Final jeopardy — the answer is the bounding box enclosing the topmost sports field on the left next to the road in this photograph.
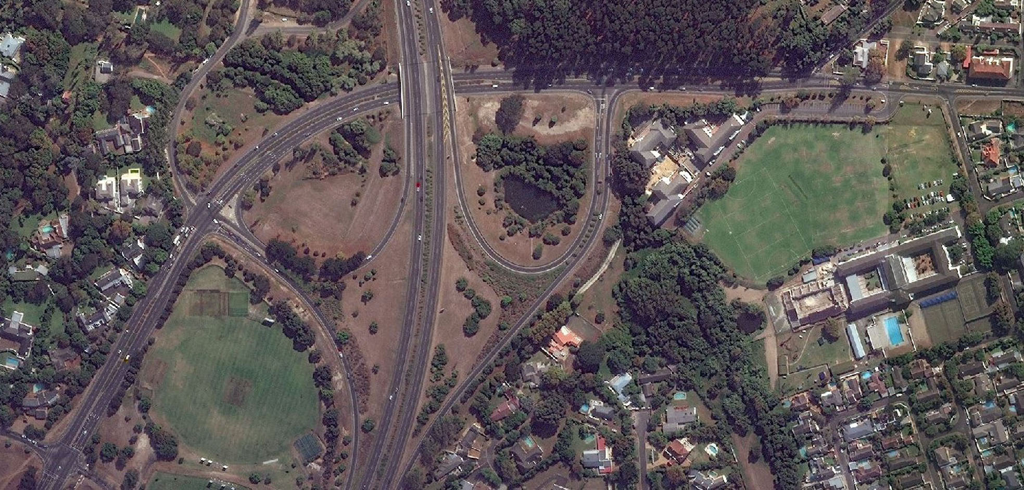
[139,264,320,465]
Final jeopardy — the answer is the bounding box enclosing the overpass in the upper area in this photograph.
[398,60,456,119]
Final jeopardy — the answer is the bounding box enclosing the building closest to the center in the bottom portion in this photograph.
[550,326,581,359]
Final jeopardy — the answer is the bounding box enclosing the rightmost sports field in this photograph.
[888,101,960,233]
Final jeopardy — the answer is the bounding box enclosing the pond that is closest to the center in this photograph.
[504,174,558,222]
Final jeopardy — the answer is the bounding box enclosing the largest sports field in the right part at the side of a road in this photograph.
[697,123,891,285]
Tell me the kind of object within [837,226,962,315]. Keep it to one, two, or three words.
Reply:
building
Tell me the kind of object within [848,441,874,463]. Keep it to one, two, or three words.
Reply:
house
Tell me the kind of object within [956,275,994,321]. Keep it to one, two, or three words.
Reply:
tennis court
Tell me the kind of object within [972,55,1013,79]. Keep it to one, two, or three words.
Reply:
building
